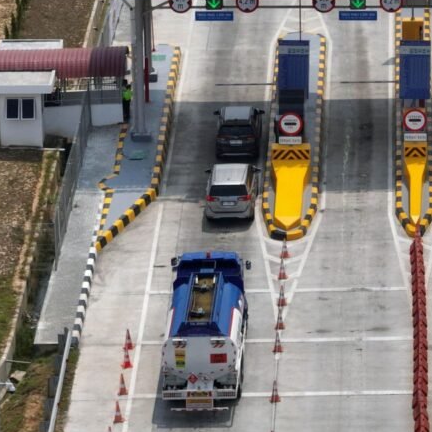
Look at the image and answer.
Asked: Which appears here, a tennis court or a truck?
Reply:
truck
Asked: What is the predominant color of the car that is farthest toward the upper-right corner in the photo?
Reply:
black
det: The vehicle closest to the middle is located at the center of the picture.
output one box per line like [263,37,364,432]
[203,159,261,219]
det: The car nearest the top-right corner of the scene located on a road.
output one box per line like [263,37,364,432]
[212,104,267,159]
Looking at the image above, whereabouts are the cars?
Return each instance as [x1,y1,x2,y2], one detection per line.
[212,104,267,159]
[203,159,261,219]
